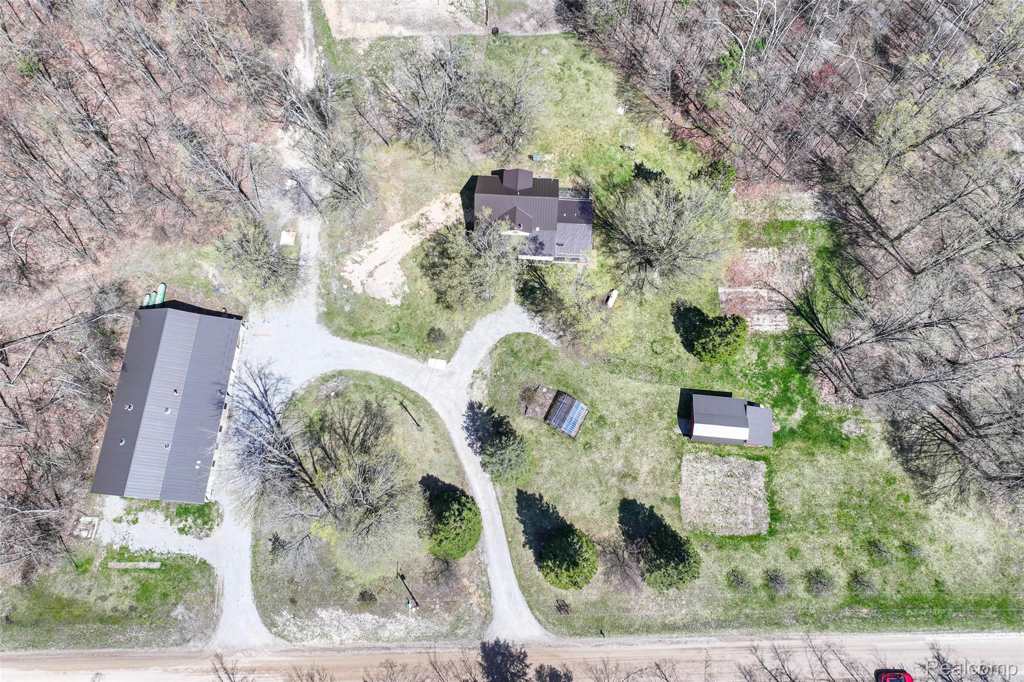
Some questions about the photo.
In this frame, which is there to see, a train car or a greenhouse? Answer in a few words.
greenhouse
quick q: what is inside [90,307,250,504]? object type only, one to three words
barn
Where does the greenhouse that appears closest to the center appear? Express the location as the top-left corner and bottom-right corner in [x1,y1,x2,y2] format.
[543,391,592,439]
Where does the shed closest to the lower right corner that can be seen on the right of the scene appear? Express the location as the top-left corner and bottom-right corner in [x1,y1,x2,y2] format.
[679,397,769,448]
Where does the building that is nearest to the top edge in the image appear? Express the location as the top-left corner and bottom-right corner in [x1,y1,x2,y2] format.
[473,164,592,272]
